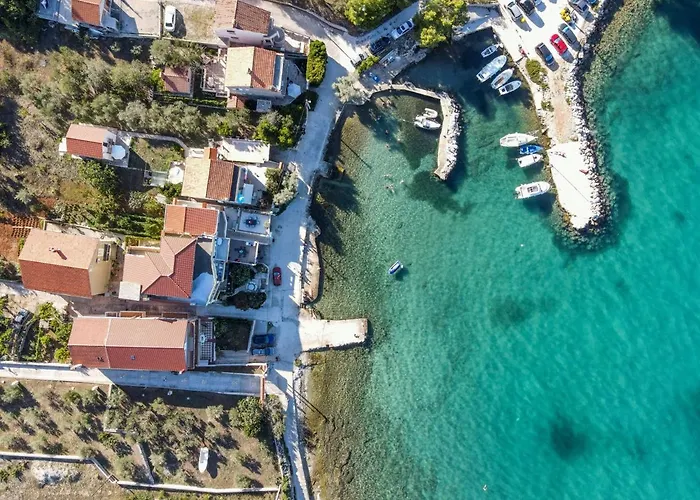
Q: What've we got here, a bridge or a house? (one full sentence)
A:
The one in the frame is a house.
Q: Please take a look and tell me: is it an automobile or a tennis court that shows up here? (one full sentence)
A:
I can see an automobile in this picture.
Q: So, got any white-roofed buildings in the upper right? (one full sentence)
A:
No, no white-roofed building is visible in the upper right.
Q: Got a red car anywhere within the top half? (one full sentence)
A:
Yes, the scene does show a red car within the top half.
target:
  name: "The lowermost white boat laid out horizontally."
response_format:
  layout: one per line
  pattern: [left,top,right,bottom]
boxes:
[513,181,555,198]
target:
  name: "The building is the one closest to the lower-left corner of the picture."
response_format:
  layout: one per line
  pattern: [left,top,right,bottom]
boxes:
[68,316,122,368]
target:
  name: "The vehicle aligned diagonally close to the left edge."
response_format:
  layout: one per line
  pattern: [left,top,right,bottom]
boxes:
[9,305,33,328]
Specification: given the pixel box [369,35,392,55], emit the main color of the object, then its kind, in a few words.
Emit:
black car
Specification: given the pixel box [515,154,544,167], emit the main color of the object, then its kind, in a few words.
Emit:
white boat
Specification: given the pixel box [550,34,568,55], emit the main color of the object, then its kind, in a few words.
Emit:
red car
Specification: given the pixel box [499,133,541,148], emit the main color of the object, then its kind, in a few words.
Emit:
white boat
